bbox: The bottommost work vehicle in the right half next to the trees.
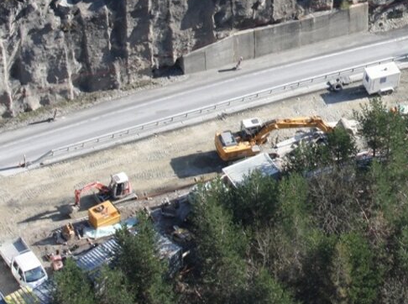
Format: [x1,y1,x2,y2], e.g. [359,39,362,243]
[212,120,346,167]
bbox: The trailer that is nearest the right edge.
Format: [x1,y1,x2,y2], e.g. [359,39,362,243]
[355,60,408,97]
